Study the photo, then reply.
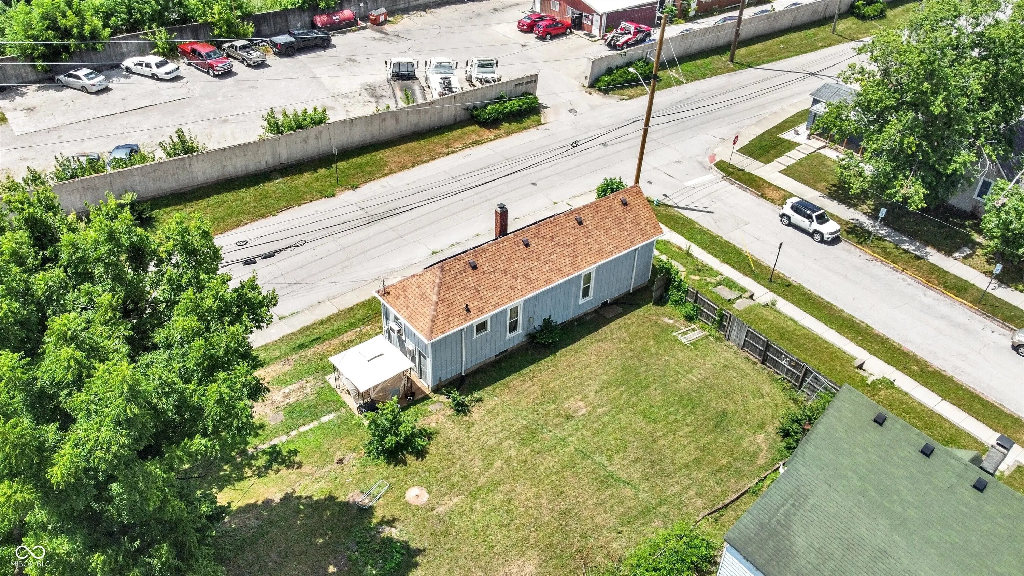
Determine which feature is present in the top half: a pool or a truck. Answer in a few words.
truck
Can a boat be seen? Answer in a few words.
No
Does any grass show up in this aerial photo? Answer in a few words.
Yes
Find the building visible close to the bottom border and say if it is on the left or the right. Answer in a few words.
right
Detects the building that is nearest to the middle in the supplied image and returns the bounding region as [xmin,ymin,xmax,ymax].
[371,185,669,390]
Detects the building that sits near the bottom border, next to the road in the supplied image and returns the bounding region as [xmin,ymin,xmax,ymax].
[718,382,1024,576]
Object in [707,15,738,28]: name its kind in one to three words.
vehicle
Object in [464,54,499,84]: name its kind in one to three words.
truck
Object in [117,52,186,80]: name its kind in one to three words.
car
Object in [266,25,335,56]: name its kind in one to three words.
truck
